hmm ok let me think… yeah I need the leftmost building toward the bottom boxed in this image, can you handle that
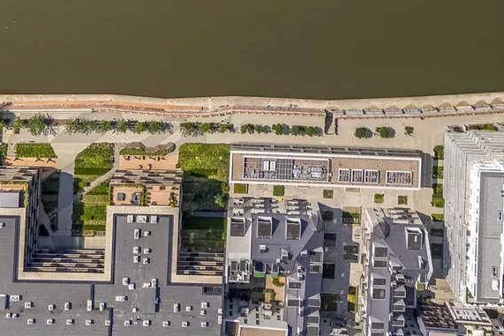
[0,161,225,336]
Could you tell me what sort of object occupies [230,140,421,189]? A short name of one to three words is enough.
building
